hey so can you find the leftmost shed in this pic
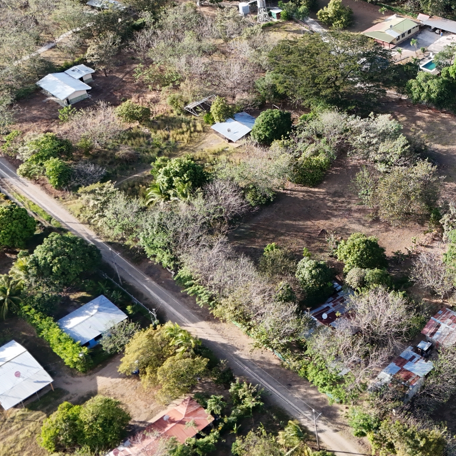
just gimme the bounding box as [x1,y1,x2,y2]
[0,337,56,419]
